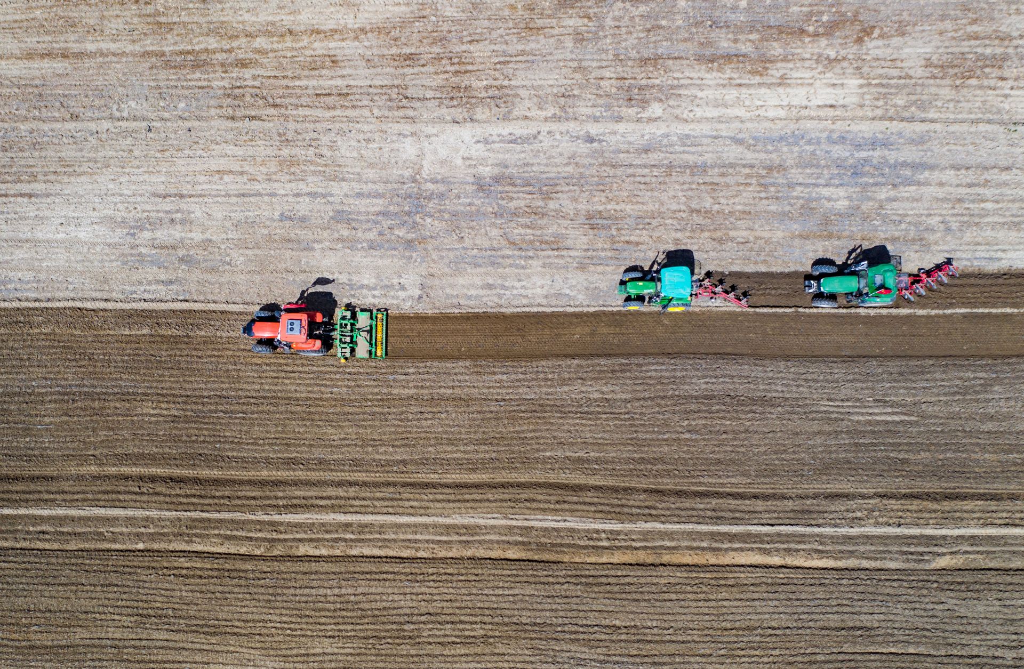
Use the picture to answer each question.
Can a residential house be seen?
No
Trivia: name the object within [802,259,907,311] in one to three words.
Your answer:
work vehicle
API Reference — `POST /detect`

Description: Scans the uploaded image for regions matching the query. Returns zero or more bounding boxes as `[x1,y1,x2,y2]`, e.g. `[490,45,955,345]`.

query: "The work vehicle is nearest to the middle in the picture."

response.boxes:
[614,263,699,313]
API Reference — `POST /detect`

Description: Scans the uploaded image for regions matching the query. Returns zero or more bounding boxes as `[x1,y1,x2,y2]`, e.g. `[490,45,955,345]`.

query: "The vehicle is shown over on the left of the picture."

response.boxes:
[240,307,337,356]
